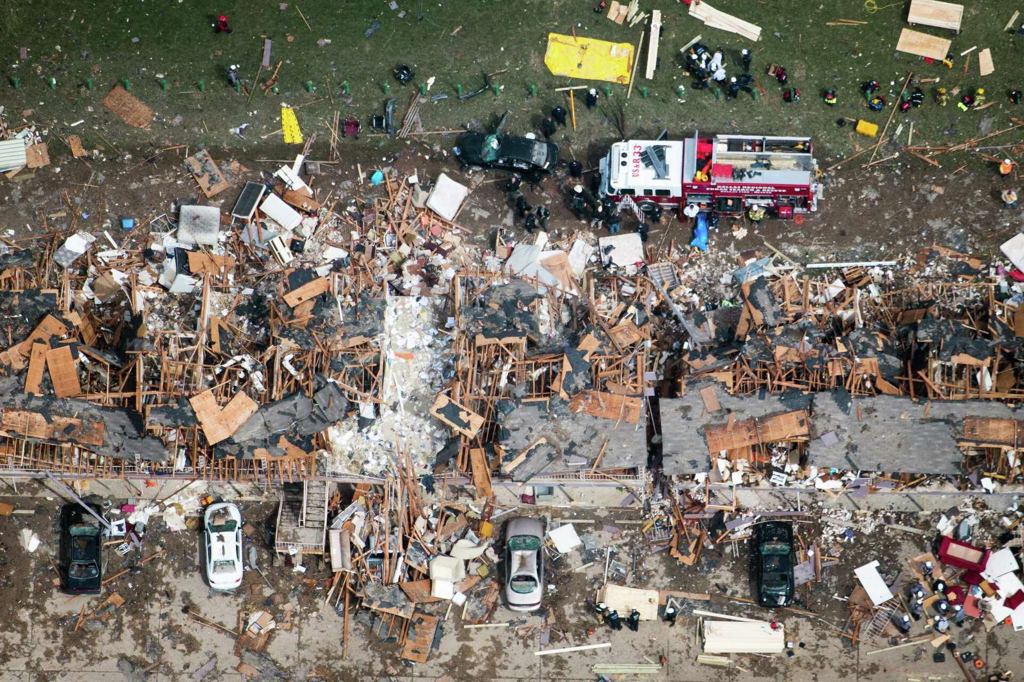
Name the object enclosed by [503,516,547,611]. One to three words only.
car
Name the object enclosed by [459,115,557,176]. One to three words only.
car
